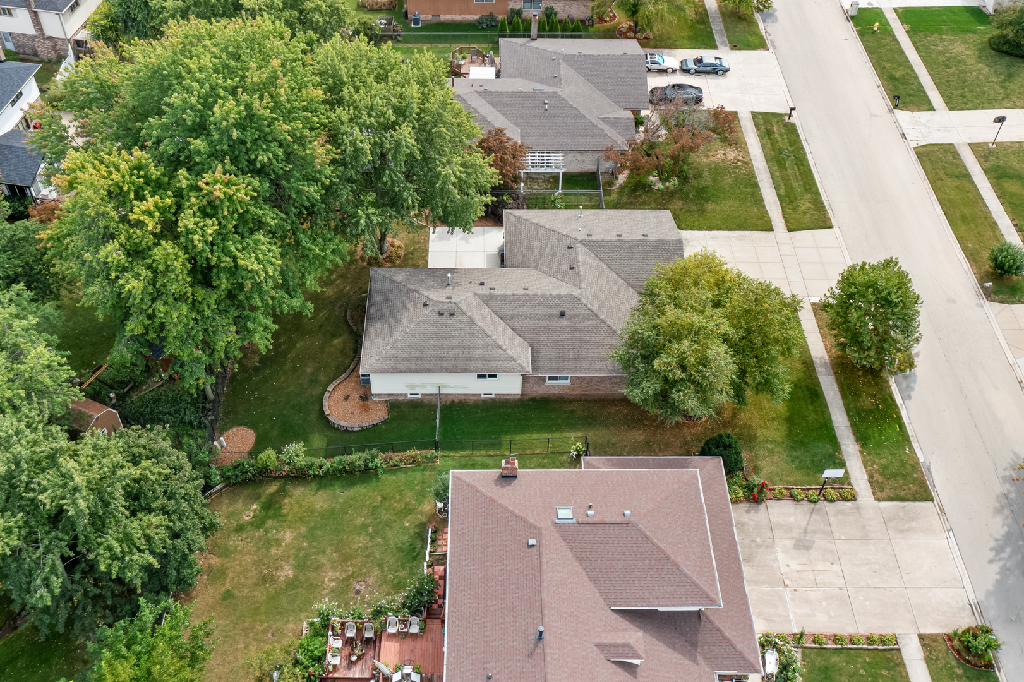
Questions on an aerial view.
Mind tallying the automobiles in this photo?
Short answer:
three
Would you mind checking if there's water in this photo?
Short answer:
No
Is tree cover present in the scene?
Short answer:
Yes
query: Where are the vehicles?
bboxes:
[649,80,704,105]
[646,52,680,73]
[679,54,731,76]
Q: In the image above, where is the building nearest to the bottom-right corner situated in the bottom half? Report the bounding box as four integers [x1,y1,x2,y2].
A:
[444,452,766,682]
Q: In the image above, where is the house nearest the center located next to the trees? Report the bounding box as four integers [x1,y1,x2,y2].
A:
[359,206,684,399]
